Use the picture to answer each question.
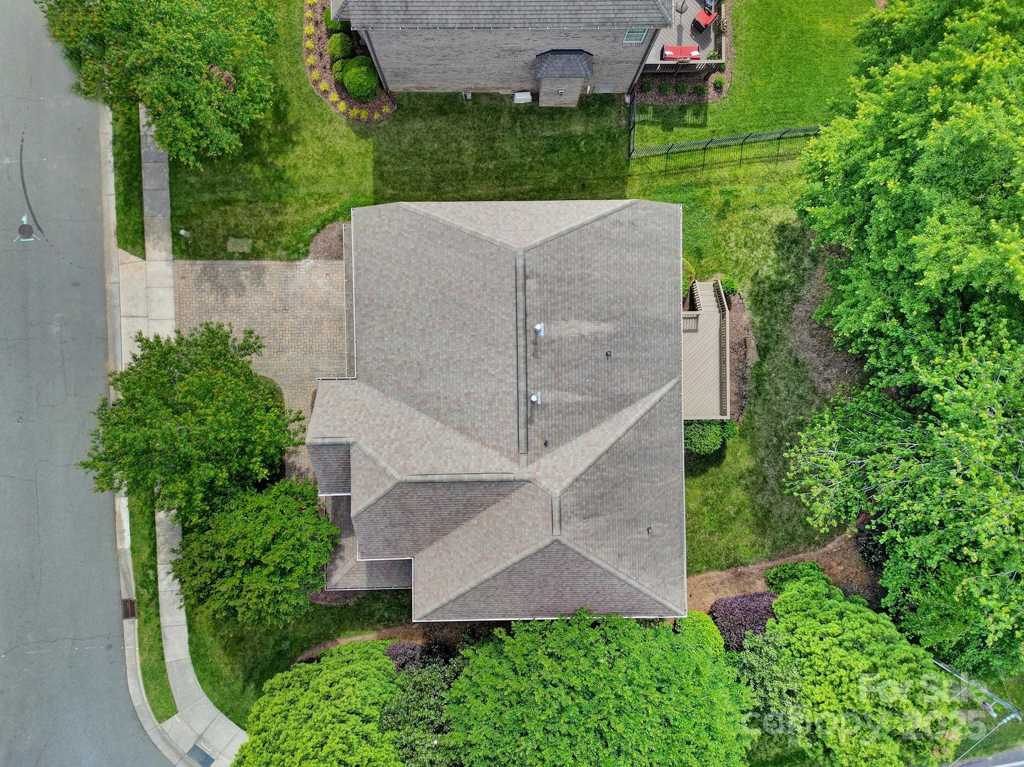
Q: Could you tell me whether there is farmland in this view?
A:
No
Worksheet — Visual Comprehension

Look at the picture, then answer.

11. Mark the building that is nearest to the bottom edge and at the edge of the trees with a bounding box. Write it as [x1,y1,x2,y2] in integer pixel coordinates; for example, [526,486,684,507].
[307,198,689,623]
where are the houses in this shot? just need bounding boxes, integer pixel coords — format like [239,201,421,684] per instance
[329,0,676,106]
[307,198,689,623]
